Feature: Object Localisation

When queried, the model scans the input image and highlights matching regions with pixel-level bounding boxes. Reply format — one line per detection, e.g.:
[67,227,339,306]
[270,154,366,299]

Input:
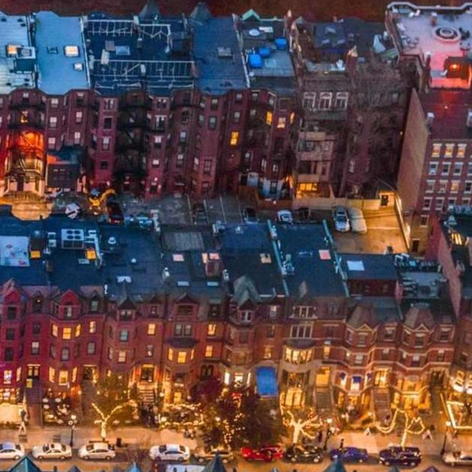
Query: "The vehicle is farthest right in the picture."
[441,451,472,470]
